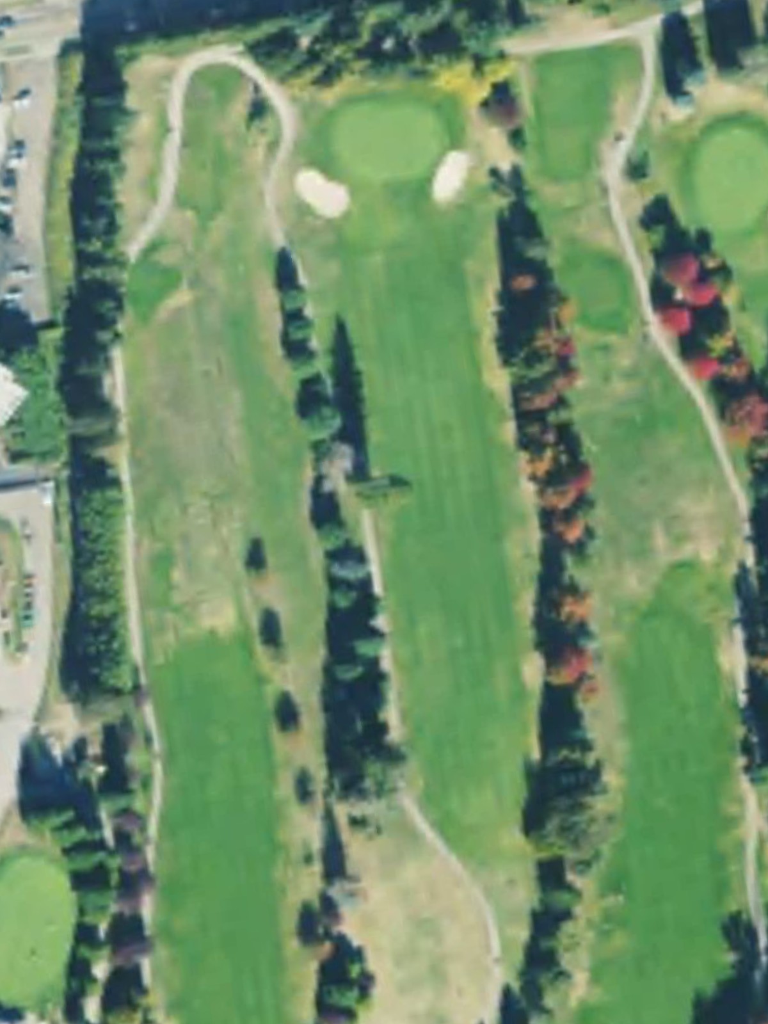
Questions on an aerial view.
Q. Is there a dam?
No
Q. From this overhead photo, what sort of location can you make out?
golf course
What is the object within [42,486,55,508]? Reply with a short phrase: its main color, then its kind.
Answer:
white vehicle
